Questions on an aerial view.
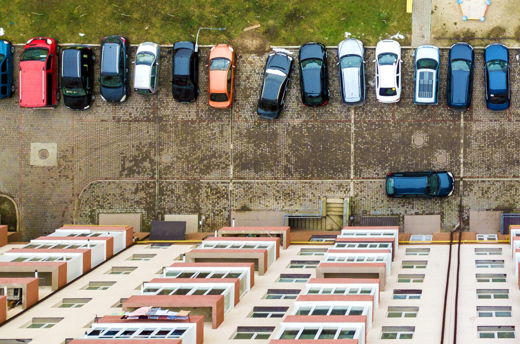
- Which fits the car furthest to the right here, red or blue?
blue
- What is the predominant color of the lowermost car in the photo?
blue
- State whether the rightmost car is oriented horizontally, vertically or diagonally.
vertically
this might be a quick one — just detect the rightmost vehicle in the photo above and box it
[481,44,512,111]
